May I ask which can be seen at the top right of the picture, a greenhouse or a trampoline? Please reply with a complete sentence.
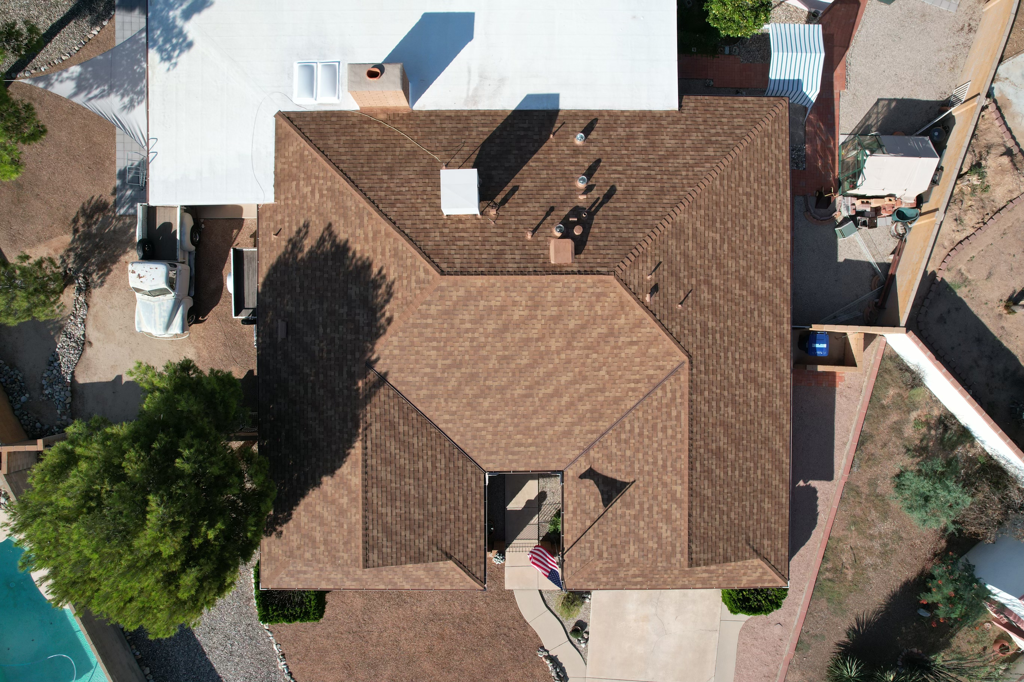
The feature located at the top right of the picture is a greenhouse.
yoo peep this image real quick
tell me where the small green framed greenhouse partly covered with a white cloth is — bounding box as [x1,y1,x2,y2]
[839,134,941,196]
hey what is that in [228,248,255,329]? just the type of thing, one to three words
trailer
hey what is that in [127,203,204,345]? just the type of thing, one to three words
truck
